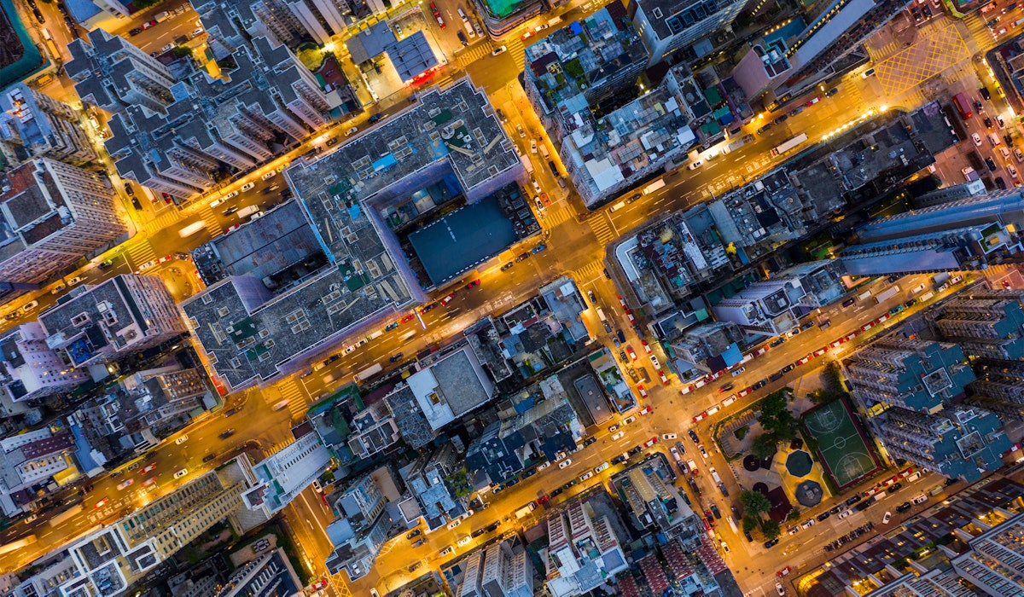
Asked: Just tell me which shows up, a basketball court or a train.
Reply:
basketball court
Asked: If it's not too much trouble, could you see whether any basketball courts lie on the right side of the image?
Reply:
Yes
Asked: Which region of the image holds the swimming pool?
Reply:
top right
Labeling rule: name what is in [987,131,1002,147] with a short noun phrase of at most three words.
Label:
vehicle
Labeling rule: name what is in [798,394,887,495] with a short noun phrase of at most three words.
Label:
basketball court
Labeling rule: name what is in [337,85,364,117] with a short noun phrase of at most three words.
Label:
shed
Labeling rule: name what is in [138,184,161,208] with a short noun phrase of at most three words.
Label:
truck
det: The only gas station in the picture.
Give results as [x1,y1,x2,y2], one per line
[346,20,440,84]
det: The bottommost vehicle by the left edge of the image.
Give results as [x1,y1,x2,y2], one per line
[1,533,32,554]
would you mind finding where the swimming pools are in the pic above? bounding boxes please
[749,8,812,48]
